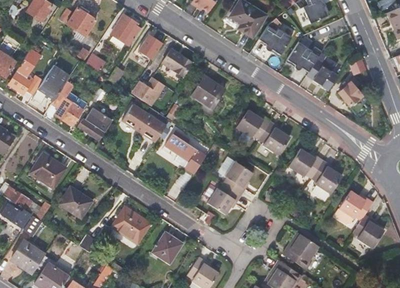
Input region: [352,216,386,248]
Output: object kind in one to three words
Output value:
house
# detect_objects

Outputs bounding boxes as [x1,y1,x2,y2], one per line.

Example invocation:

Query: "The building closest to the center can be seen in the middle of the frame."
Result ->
[163,124,208,168]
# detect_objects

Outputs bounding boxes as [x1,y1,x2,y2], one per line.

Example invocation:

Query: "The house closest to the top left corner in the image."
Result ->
[24,0,56,30]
